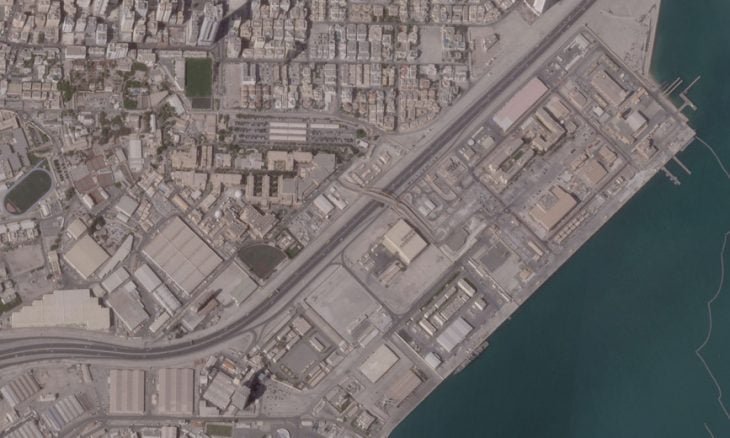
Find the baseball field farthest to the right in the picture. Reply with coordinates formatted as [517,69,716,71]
[237,241,289,280]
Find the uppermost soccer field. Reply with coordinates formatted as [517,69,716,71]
[185,57,212,97]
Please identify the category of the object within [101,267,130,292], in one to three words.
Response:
building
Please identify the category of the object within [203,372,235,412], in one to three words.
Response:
building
